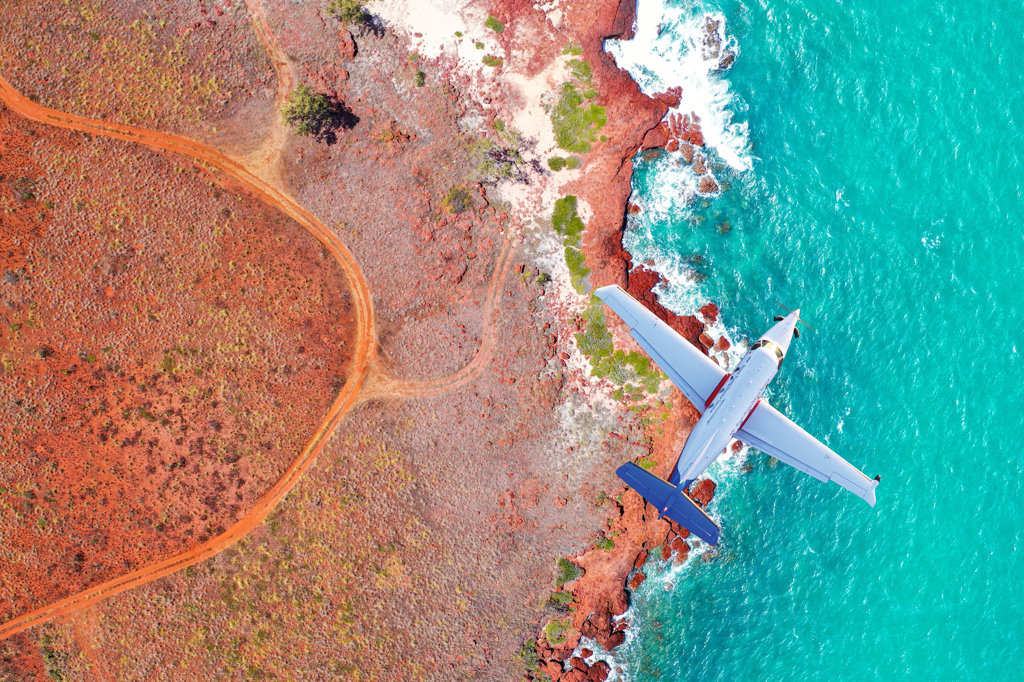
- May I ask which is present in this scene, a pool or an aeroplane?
aeroplane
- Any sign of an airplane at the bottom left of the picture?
No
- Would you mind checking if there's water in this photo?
Yes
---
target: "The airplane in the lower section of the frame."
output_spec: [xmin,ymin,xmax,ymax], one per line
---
[594,289,887,547]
